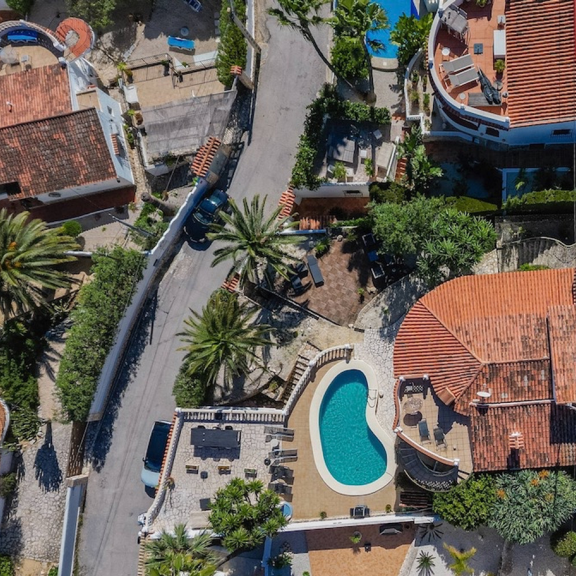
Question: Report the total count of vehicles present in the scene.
2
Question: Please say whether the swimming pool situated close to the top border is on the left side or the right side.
right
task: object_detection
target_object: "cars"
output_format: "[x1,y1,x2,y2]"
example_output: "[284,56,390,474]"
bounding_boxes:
[178,188,235,246]
[131,422,166,489]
